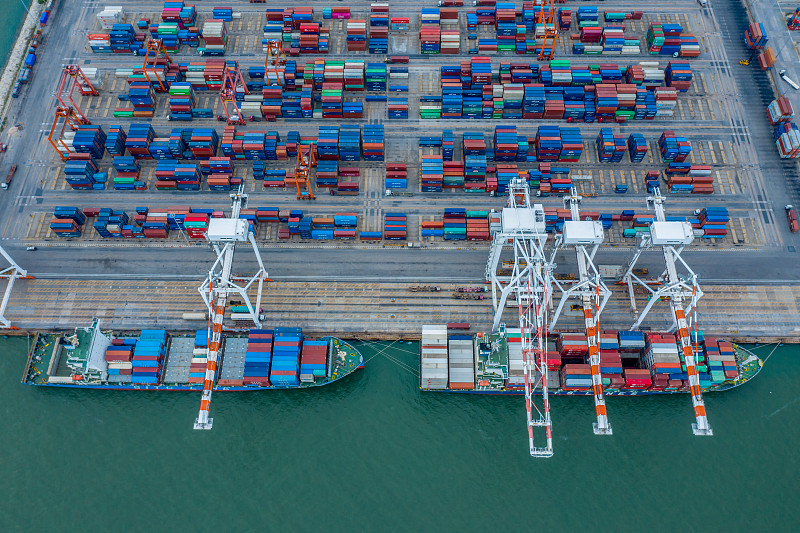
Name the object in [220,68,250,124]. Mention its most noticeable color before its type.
red container crane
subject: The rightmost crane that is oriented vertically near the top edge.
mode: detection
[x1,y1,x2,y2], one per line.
[537,6,560,60]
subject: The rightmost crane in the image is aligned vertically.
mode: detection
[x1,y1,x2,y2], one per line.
[614,186,714,432]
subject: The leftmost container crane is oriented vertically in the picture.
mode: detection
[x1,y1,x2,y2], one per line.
[0,247,33,328]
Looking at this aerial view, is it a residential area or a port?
port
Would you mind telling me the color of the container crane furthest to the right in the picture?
white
